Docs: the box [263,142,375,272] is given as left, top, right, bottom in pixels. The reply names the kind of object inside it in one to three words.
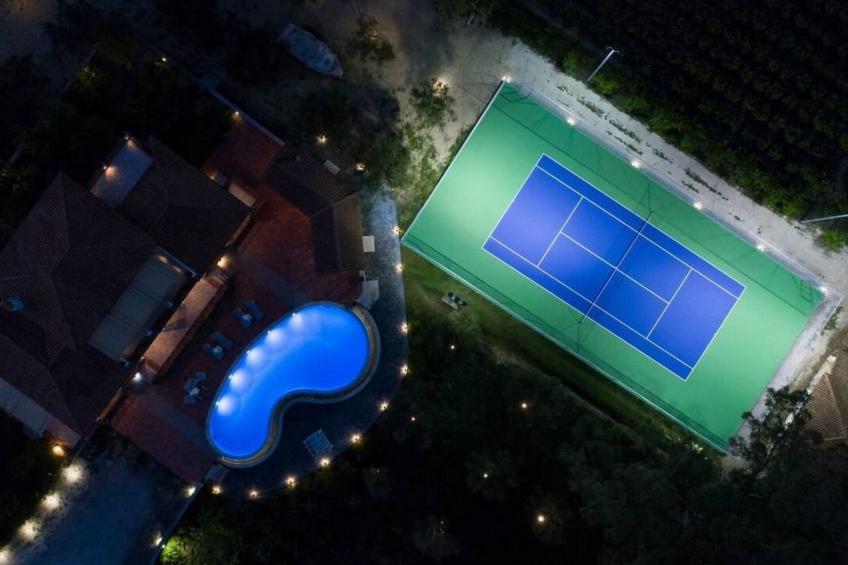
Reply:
building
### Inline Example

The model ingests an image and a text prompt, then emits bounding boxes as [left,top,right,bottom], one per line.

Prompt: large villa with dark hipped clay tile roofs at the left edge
[0,135,253,447]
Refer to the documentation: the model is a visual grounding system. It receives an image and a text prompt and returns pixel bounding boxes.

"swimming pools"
[205,299,379,470]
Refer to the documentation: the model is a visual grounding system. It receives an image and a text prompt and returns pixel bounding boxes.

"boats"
[279,26,341,72]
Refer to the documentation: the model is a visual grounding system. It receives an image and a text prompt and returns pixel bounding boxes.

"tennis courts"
[402,82,828,450]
